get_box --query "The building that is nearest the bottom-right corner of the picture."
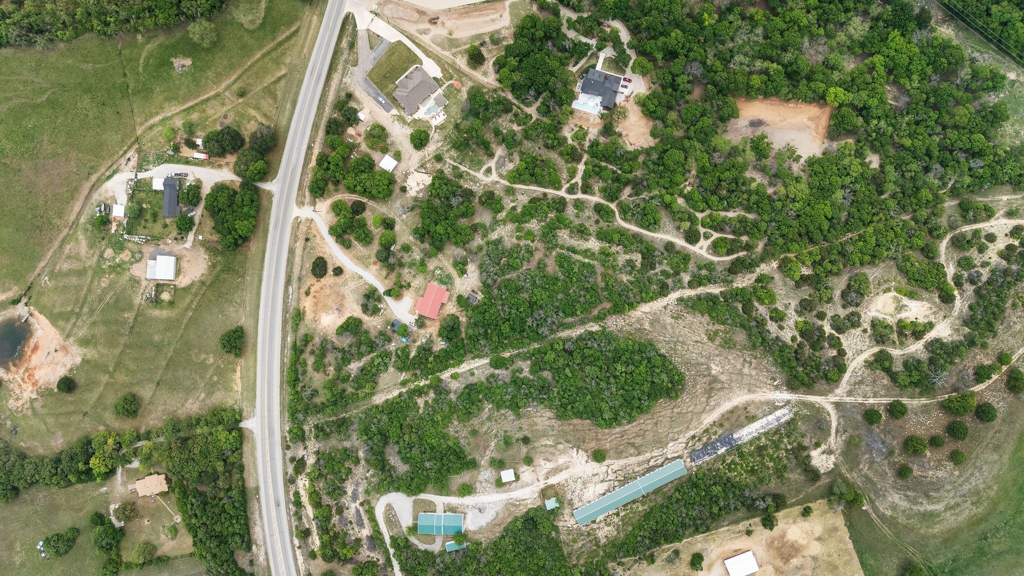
[722,548,759,576]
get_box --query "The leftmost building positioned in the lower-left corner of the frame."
[136,474,169,497]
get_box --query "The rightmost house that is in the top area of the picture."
[581,68,623,113]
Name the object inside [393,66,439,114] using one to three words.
house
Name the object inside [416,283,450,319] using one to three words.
house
